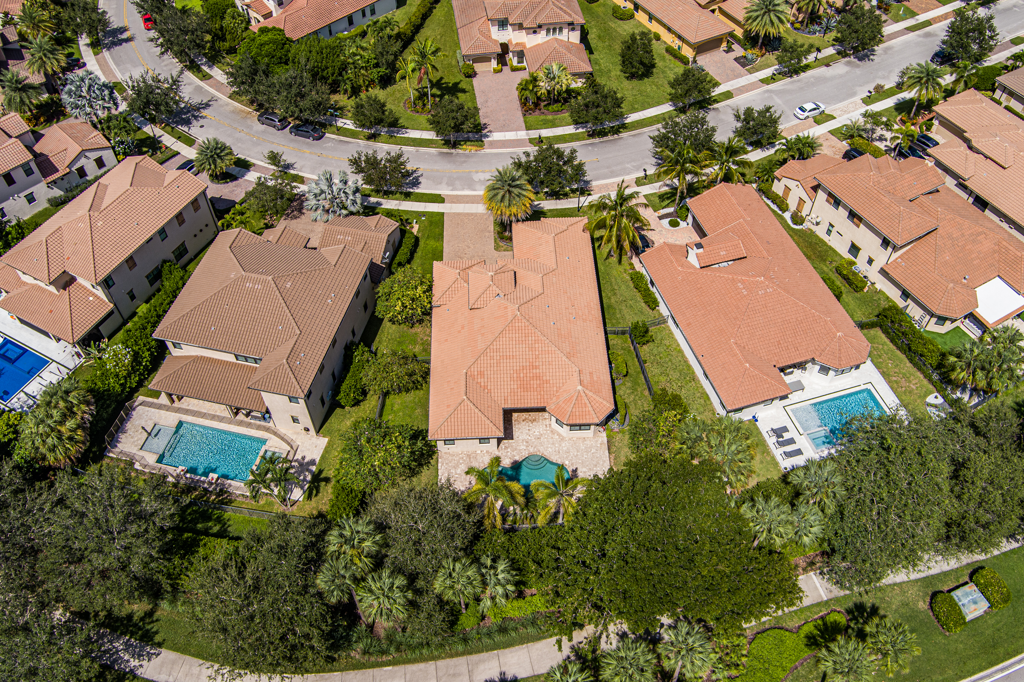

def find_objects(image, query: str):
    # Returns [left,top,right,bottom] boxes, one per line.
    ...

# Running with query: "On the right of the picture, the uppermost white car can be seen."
[794,100,829,119]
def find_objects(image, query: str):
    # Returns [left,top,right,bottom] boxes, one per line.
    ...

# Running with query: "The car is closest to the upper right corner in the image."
[929,42,961,64]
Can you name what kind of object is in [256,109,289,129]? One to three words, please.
car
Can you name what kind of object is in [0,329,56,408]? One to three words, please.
swimming pool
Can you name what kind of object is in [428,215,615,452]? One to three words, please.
house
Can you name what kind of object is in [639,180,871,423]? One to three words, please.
house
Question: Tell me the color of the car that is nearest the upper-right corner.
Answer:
black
